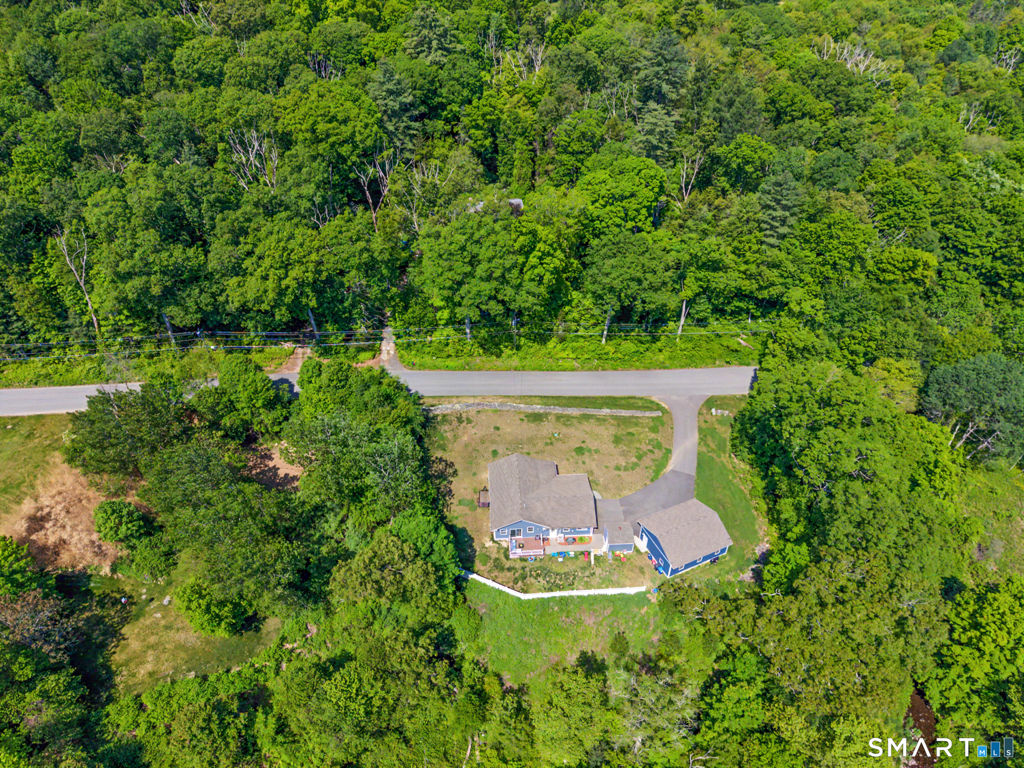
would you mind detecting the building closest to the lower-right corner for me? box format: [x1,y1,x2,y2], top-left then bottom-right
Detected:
[637,498,732,578]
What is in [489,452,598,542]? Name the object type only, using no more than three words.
house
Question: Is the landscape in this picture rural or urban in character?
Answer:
rural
